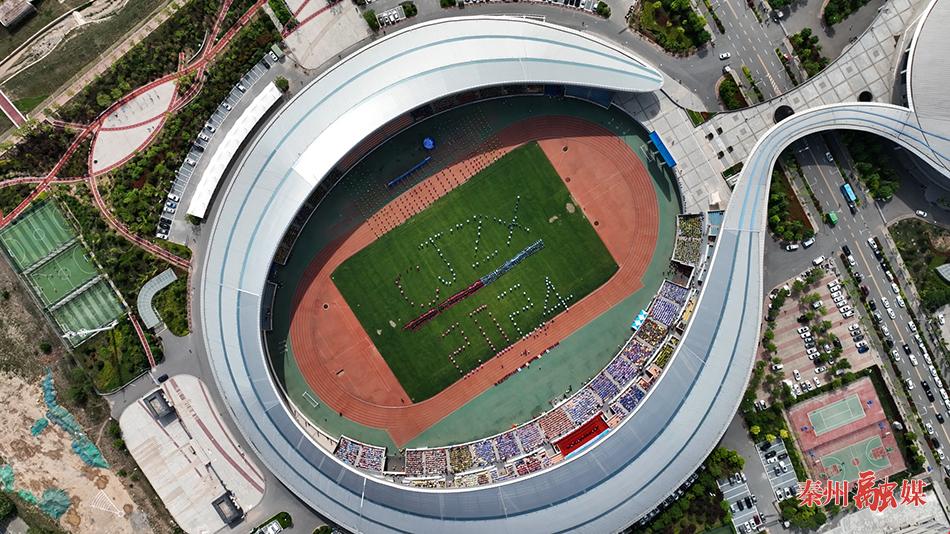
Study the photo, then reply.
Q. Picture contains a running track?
Yes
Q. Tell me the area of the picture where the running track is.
center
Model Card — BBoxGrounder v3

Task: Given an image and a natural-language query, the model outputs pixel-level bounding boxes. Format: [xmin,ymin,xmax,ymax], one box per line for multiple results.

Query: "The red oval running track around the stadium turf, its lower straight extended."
[262,95,690,462]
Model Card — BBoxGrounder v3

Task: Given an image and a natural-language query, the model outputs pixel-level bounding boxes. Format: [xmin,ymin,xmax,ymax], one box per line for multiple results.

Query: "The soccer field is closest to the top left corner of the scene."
[0,197,79,273]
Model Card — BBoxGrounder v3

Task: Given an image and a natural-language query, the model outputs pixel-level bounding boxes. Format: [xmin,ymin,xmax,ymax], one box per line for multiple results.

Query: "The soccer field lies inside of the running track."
[330,141,619,402]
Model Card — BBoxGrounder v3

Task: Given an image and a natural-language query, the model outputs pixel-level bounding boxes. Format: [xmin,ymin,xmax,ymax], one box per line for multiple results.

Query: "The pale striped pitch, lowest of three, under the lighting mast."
[45,277,127,350]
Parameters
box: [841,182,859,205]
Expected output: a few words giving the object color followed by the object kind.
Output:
blue vehicle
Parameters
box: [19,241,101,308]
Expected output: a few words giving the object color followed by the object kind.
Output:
green soccer field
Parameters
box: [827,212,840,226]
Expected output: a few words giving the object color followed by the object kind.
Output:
green vehicle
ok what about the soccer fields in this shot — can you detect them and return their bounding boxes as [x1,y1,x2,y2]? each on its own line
[330,141,619,402]
[0,197,79,273]
[45,277,127,350]
[19,241,101,308]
